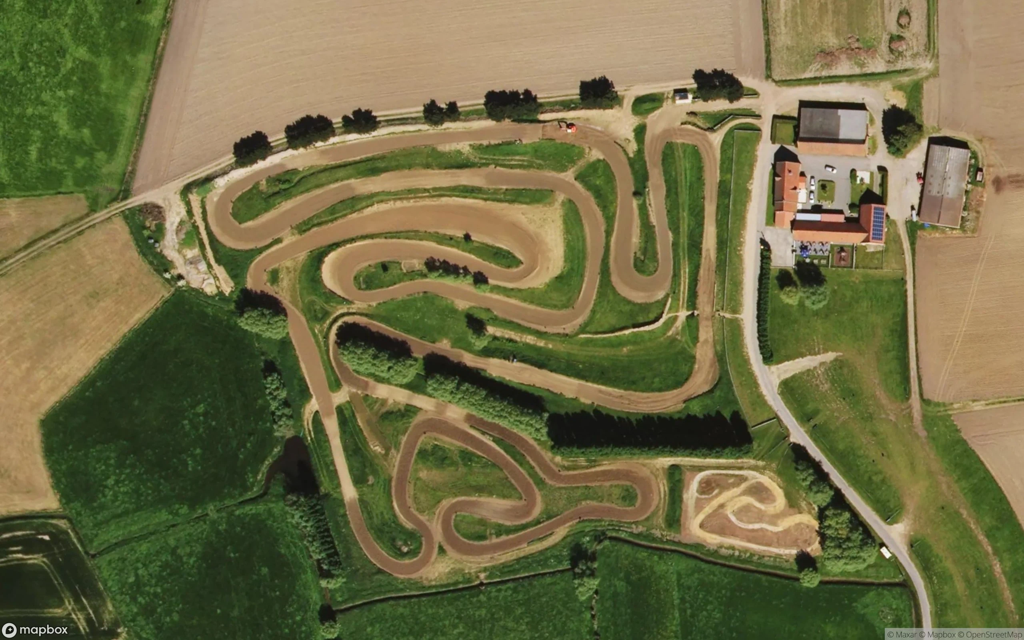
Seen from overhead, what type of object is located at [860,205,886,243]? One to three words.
barn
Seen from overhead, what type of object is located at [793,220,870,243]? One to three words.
barn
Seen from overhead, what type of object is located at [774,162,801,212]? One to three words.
house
